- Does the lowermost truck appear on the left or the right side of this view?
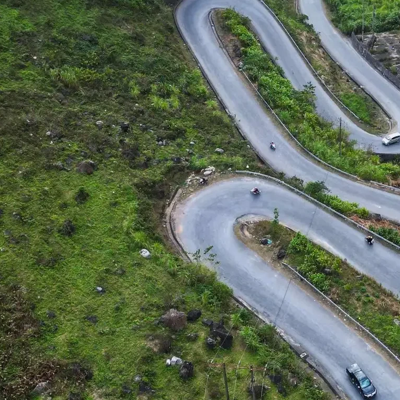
right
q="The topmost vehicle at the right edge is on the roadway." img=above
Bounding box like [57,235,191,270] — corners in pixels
[381,131,400,146]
